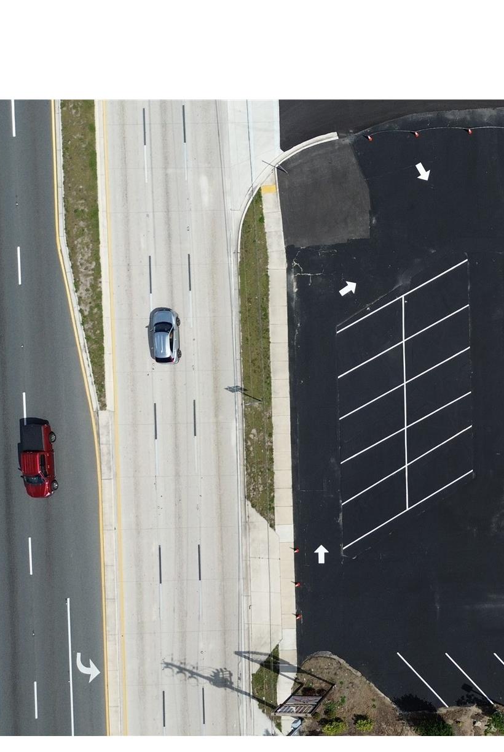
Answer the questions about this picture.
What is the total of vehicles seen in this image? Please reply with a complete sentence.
The count of vehicles comes to 2.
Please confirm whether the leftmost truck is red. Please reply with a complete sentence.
Yes, the leftmost truck is red.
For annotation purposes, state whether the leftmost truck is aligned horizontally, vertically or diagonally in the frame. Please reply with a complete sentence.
Seen from above, the leftmost truck lies vertically.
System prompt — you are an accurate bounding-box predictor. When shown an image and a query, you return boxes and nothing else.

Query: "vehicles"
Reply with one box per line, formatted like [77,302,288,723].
[147,308,182,365]
[21,424,60,498]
